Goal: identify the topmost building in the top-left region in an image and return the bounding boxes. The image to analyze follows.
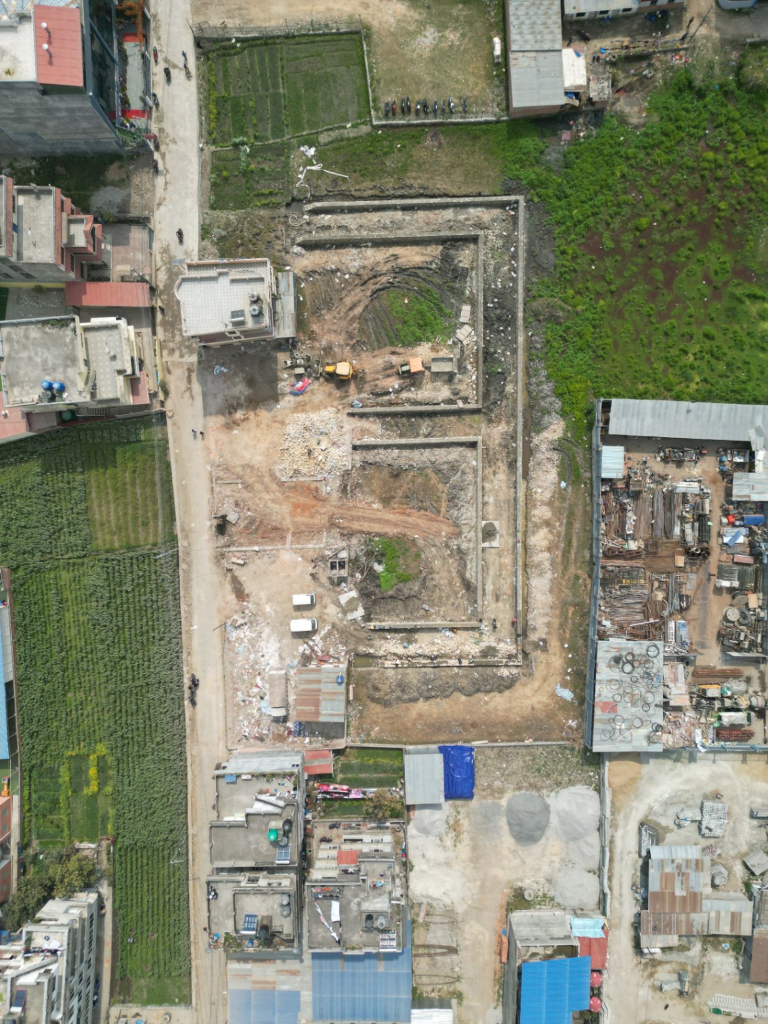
[0,0,127,145]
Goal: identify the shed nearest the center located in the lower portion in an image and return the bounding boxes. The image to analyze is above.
[295,663,347,722]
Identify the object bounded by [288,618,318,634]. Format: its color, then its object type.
white vehicle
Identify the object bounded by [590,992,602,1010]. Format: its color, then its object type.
pink umbrella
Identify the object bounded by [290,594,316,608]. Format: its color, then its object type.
white vehicle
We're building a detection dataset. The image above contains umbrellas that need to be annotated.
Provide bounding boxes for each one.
[590,969,602,985]
[590,992,602,1010]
